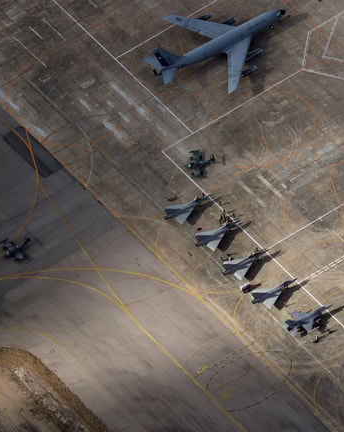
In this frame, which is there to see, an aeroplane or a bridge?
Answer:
aeroplane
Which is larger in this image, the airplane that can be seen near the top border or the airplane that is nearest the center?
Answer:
the airplane that can be seen near the top border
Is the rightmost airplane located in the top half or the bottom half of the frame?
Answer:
bottom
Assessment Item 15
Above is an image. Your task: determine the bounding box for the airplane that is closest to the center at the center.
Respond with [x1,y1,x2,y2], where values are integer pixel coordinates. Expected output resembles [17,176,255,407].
[164,195,212,226]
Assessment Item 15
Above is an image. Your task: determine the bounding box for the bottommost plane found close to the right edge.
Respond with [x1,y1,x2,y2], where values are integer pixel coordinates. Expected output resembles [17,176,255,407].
[283,305,331,335]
